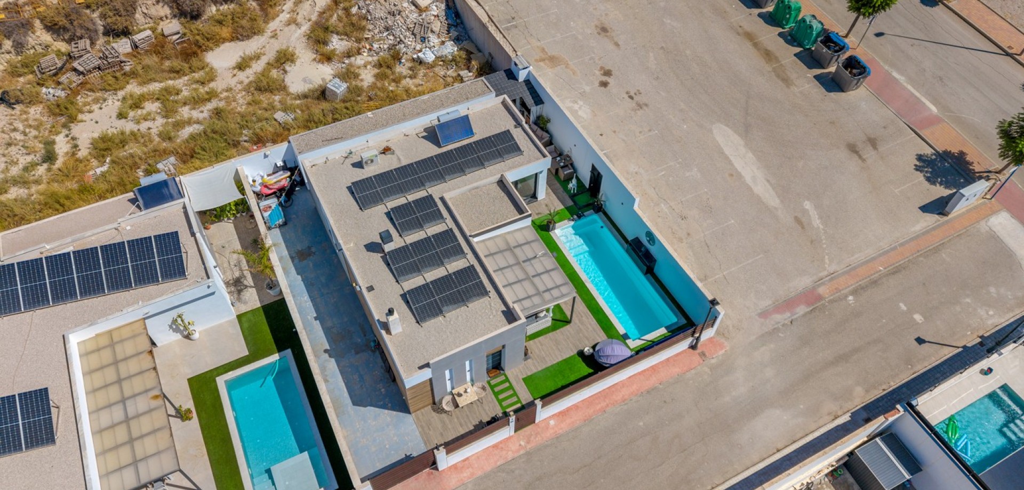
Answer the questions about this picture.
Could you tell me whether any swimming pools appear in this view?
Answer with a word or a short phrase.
Yes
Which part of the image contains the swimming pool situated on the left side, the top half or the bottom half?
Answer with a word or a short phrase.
bottom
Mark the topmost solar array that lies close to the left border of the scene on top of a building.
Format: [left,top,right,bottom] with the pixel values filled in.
[0,230,189,318]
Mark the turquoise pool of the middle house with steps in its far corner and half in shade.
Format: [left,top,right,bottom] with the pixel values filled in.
[547,209,687,349]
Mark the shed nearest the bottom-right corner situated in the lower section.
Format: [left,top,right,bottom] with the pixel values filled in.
[845,432,924,490]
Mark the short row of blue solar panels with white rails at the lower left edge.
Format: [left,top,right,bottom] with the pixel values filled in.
[0,386,64,459]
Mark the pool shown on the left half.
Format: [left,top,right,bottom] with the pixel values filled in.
[214,349,341,490]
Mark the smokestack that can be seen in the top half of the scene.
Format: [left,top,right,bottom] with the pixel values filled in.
[509,53,531,80]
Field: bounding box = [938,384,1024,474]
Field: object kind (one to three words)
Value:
swimming pool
